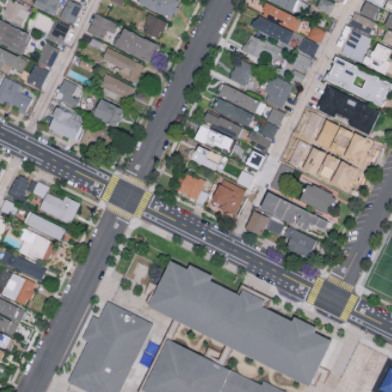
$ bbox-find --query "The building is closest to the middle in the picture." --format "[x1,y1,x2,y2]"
[179,174,208,206]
